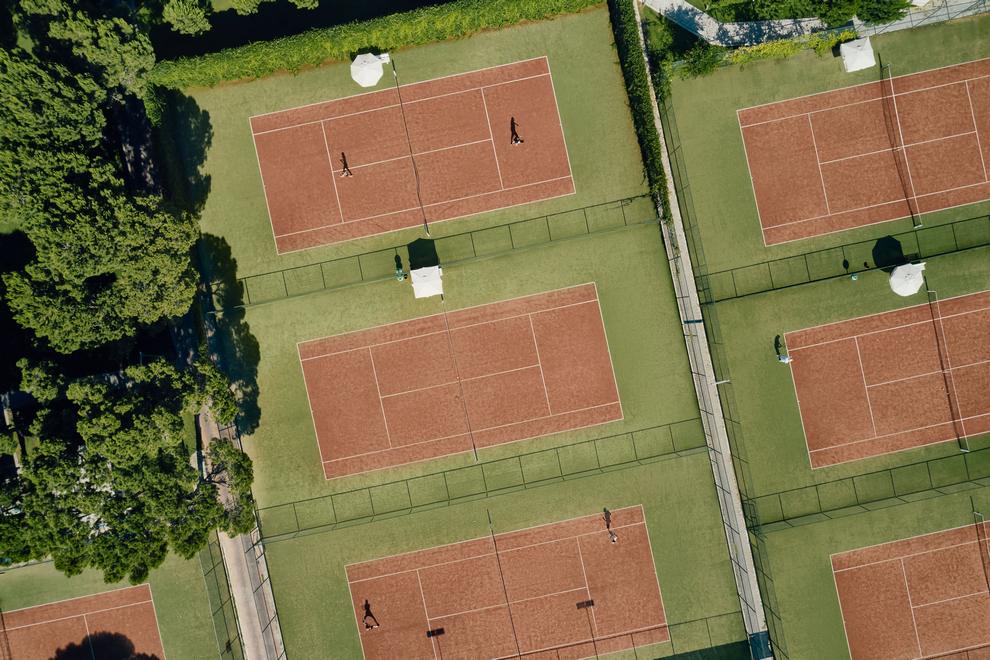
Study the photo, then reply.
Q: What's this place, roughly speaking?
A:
sports ground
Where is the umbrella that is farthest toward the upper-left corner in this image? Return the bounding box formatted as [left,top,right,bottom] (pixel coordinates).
[350,54,386,90]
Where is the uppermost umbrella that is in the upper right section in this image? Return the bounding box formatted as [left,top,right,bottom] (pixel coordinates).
[837,37,876,74]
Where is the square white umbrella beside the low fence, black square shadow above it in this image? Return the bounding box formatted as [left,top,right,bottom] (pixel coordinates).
[410,264,446,301]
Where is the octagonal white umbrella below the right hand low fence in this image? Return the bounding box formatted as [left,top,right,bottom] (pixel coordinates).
[887,261,924,299]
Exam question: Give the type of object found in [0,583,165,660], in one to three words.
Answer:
tennis court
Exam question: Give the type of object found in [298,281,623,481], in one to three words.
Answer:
tennis court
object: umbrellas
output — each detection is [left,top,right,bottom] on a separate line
[410,264,446,301]
[887,261,924,299]
[350,54,386,90]
[837,37,876,74]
